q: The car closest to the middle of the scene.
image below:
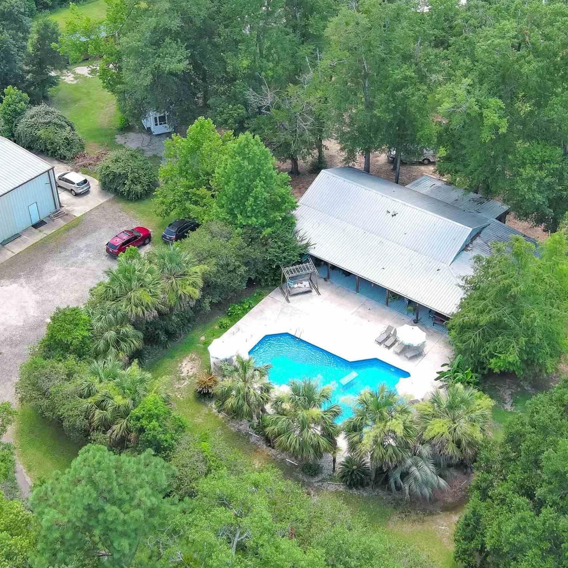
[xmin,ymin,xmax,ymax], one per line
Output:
[153,218,204,253]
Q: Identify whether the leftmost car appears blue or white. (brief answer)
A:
white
